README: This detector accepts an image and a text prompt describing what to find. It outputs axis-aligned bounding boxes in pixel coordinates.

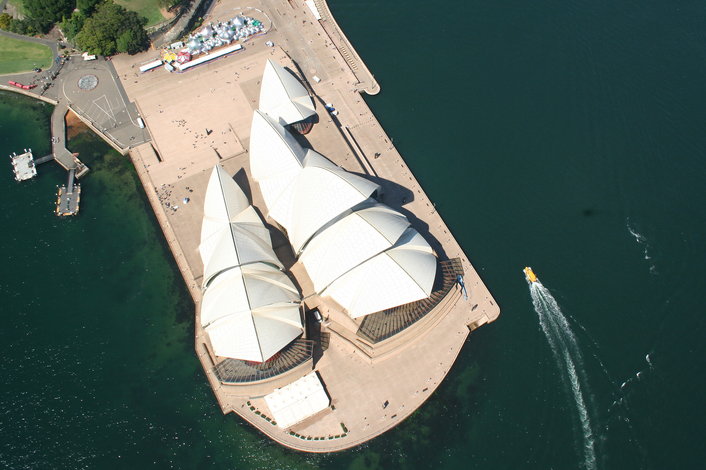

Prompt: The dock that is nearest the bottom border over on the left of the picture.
[53,183,81,215]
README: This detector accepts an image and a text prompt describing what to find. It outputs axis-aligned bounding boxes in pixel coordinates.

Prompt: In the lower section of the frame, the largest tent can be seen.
[265,371,336,435]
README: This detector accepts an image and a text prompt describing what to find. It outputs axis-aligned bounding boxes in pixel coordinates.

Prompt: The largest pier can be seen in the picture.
[52,103,79,169]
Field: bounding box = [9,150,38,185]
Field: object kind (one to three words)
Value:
pier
